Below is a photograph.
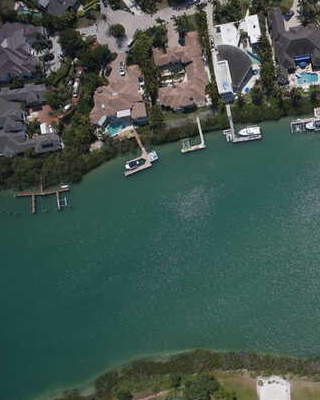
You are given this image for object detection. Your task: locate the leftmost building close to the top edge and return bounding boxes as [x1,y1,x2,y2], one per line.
[0,17,54,89]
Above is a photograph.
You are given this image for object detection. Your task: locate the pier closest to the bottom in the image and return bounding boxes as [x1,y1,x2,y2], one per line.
[16,171,72,214]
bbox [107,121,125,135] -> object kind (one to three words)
swimming pool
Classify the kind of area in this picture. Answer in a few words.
residential area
